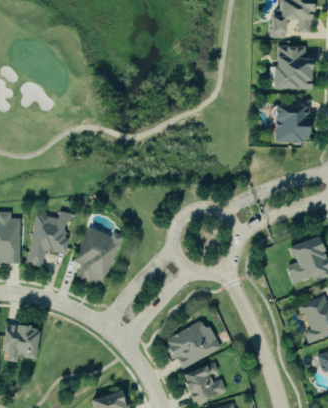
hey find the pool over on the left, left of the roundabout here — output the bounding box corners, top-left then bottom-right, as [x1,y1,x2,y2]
[88,213,121,236]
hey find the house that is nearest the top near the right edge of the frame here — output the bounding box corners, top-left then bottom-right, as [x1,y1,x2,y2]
[272,0,315,38]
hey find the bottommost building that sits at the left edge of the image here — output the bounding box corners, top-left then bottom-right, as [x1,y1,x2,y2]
[4,324,40,363]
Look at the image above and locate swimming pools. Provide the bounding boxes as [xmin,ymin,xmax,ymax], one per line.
[88,213,121,236]
[260,104,275,128]
[312,357,328,393]
[262,0,278,23]
[292,313,308,342]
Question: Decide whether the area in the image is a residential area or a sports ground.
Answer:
residential area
